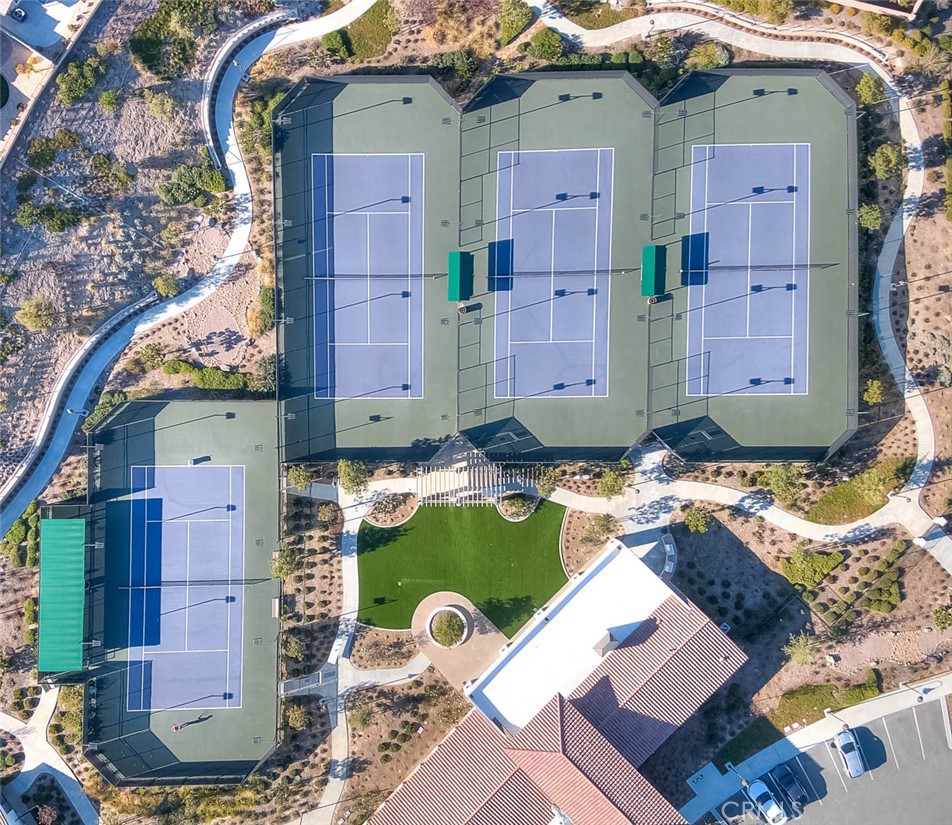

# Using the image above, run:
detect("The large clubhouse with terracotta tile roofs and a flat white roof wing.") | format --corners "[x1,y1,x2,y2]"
[361,537,748,825]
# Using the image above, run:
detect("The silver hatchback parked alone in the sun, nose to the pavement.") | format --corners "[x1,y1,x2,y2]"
[836,732,867,782]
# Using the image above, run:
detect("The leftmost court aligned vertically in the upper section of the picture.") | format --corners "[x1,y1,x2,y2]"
[276,83,461,460]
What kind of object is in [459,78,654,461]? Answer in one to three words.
tennis court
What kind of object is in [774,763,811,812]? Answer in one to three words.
car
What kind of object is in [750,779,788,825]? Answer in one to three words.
car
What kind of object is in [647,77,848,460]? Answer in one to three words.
tennis court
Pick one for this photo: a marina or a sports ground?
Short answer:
sports ground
